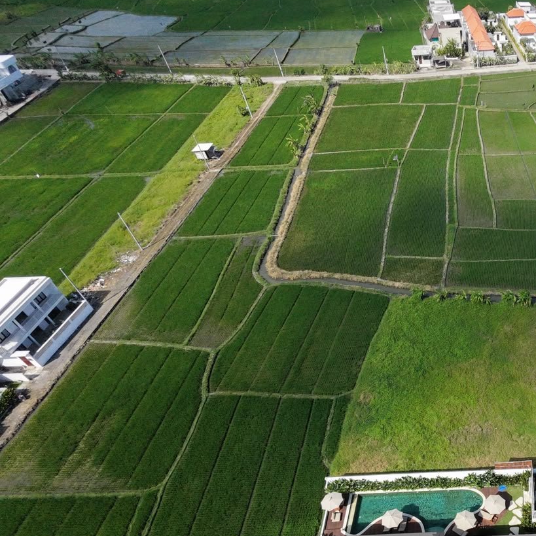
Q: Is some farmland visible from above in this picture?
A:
Yes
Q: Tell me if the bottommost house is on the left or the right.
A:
left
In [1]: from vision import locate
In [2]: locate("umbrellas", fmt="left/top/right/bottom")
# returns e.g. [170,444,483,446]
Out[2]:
[381,509,403,530]
[322,492,345,512]
[483,494,505,515]
[454,511,477,533]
